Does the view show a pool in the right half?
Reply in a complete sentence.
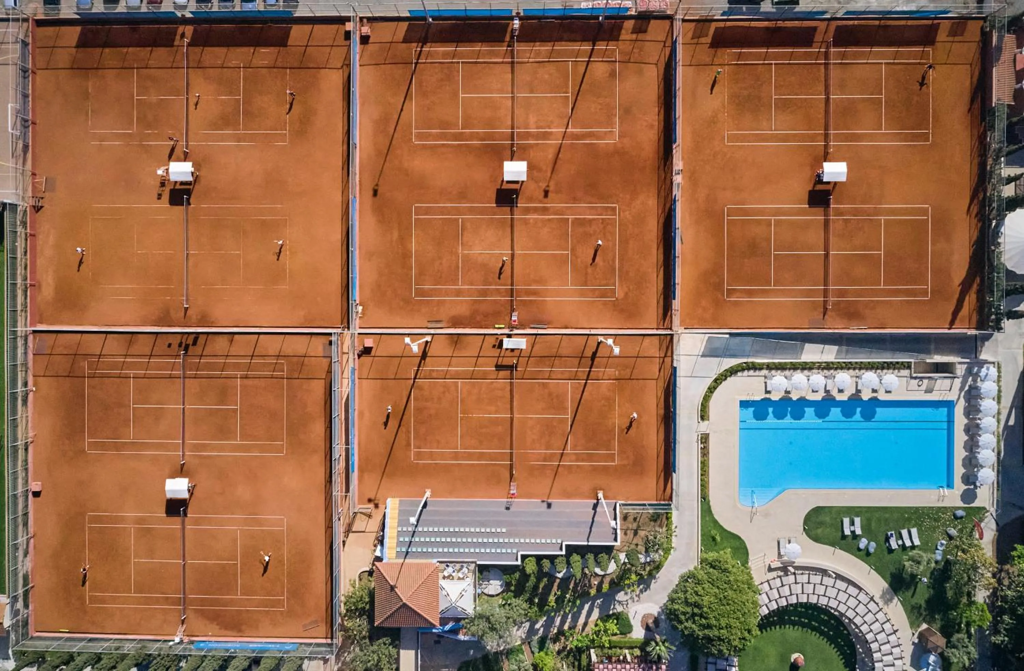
Yes, there is a pool in the right half.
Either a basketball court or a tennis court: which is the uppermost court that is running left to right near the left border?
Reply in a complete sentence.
I'd identify the uppermost court that is running left to right near the left border as a tennis court.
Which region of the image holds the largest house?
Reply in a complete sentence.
The largest house is located in the bottom region of the scene.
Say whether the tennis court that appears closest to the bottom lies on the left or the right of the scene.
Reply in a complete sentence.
The tennis court that appears closest to the bottom sits on the left side.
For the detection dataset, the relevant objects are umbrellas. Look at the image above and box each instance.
[784,541,801,558]
[972,449,992,466]
[971,469,993,486]
[770,375,788,392]
[878,373,897,389]
[860,373,877,390]
[974,399,997,417]
[975,365,996,382]
[916,651,939,671]
[974,417,996,435]
[790,372,808,390]
[975,381,995,397]
[832,373,850,389]
[807,375,824,392]
[974,434,994,450]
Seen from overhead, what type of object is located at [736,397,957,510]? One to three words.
swimming pool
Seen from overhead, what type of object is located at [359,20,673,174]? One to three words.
tennis court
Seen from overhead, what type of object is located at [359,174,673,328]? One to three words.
tennis court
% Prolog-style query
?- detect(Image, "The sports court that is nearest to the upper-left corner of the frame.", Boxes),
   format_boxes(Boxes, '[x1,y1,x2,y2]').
[0,20,28,199]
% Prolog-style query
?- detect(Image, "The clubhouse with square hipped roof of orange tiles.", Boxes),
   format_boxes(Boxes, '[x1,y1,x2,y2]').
[374,558,440,627]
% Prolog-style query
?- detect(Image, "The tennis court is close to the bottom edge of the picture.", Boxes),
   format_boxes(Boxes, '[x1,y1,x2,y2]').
[34,486,336,639]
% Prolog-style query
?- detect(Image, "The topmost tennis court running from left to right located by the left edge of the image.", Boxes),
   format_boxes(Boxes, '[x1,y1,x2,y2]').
[37,20,354,175]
